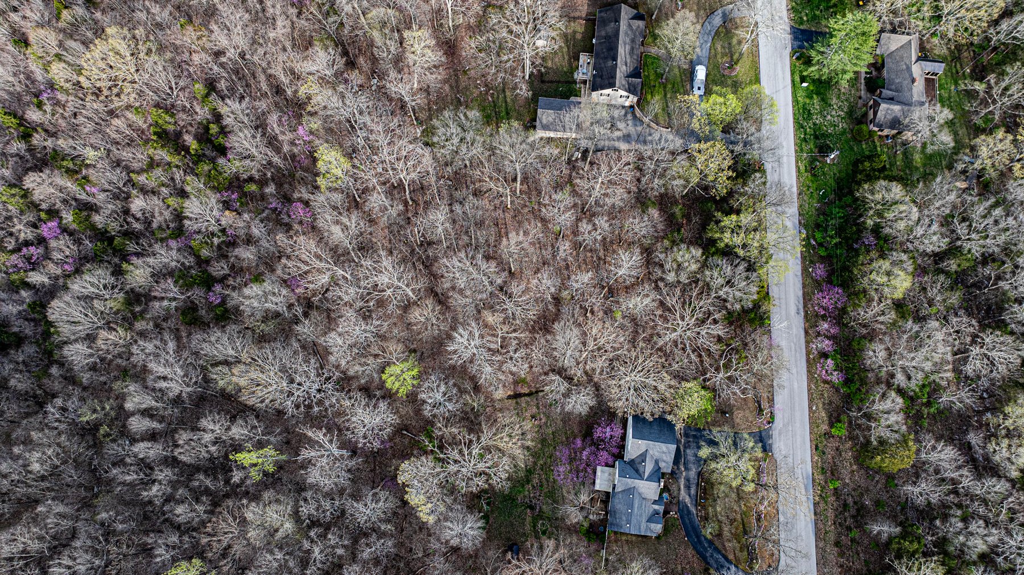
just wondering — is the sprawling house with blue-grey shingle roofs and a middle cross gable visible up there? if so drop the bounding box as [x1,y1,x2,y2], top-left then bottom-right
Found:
[603,413,677,537]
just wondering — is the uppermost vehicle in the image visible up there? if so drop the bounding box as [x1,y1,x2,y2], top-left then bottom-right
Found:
[694,62,708,94]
